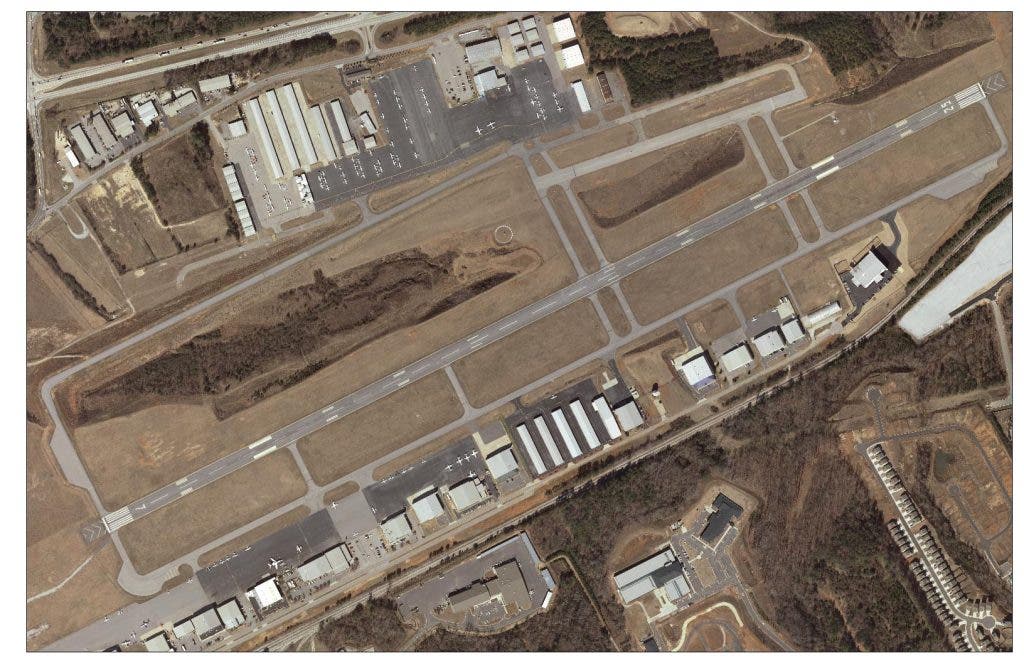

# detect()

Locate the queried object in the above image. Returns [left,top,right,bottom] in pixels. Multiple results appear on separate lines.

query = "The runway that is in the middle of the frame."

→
[81,74,1006,541]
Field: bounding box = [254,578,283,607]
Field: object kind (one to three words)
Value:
hangar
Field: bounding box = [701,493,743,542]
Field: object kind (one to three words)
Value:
building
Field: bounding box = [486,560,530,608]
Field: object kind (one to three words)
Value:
building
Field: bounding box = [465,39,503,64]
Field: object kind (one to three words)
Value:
hangar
